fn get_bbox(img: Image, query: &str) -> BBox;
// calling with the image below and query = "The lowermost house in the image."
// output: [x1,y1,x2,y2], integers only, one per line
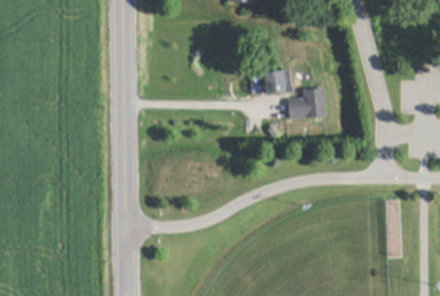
[288,86,326,120]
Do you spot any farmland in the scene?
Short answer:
Yes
